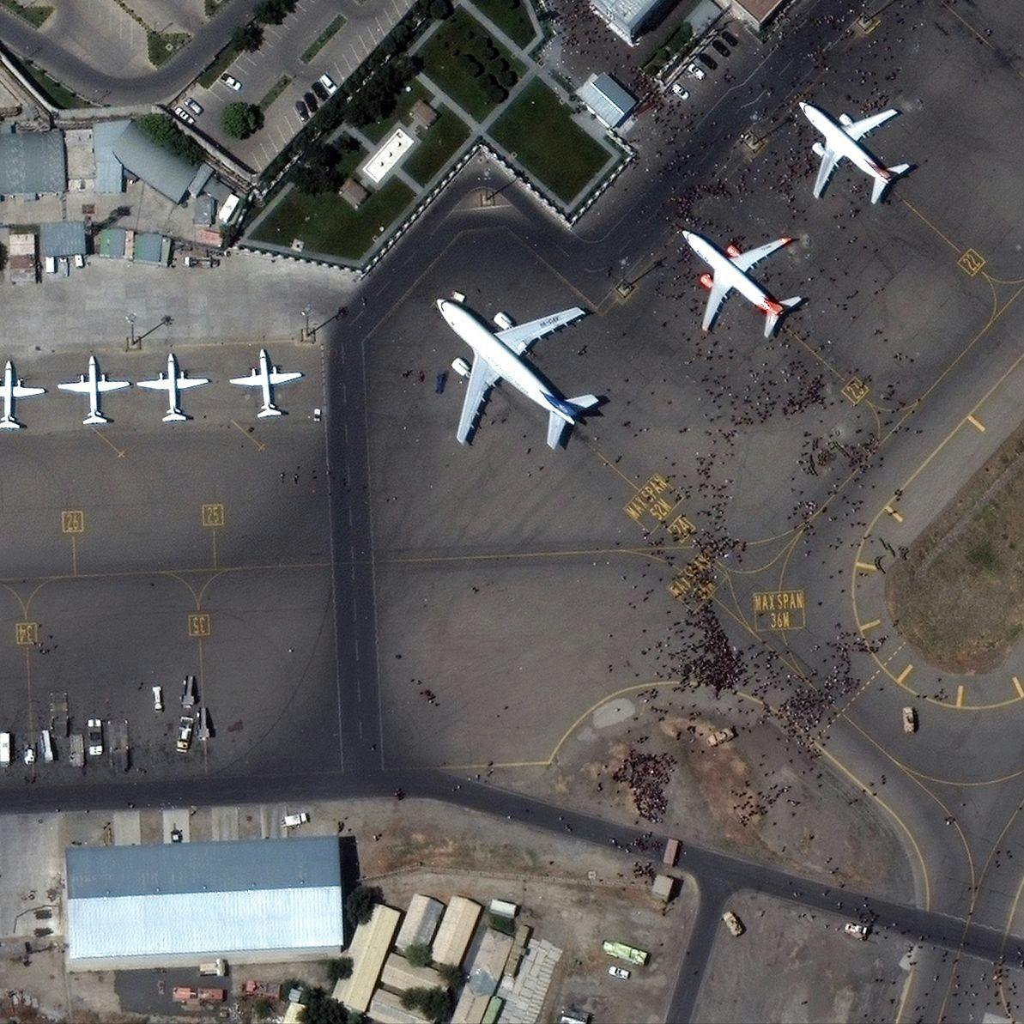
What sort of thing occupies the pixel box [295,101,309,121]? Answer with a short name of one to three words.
car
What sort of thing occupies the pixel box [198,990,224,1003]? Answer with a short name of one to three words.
vehicle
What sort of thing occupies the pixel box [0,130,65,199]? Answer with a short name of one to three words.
shed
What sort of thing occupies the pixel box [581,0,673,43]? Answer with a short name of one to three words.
building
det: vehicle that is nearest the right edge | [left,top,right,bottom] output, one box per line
[904,707,916,733]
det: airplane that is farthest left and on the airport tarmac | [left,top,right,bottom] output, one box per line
[0,361,45,430]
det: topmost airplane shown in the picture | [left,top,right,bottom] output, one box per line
[799,102,911,204]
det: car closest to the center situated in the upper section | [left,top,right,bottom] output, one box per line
[435,372,447,394]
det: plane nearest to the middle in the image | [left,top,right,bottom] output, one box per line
[436,299,599,448]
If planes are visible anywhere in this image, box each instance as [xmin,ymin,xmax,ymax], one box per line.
[683,230,804,335]
[230,349,301,418]
[137,353,209,422]
[436,299,599,448]
[58,356,129,425]
[0,361,45,430]
[799,102,911,204]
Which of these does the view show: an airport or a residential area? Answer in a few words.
airport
